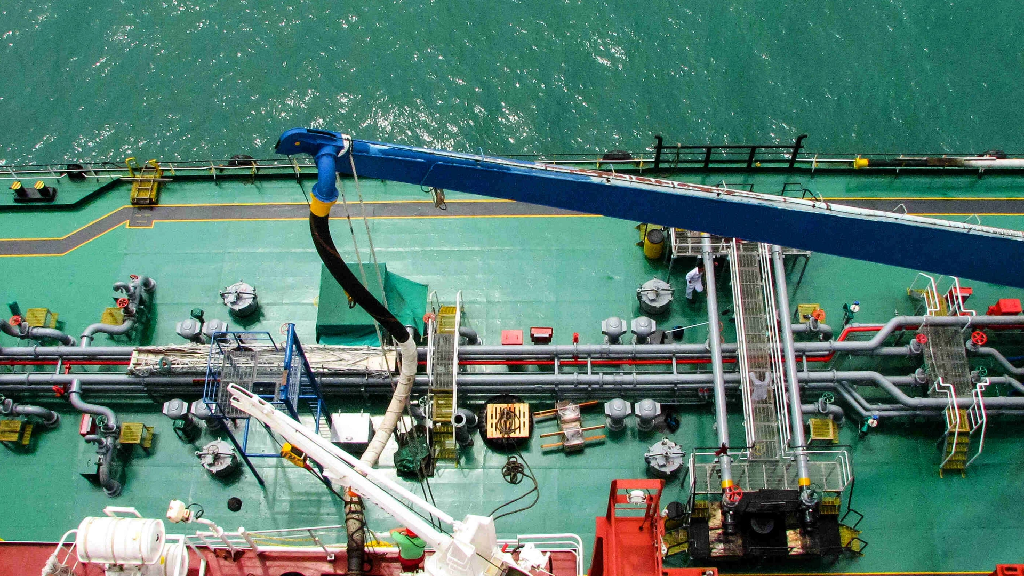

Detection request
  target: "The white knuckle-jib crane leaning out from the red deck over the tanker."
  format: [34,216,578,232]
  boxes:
[224,380,535,576]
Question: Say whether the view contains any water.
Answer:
Yes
